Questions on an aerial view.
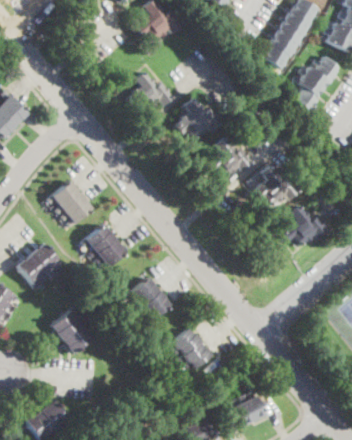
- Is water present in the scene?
No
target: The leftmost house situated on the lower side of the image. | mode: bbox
[0,284,21,328]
